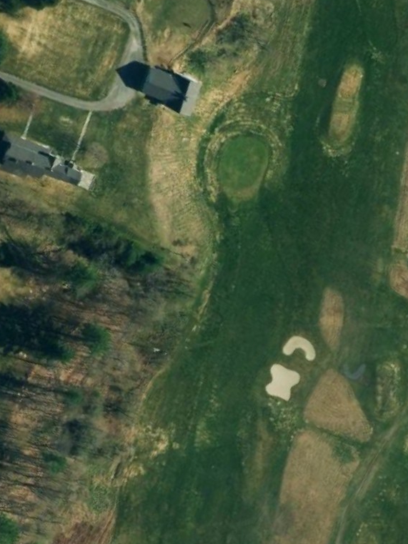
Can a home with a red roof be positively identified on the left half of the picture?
No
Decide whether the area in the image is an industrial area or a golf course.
golf course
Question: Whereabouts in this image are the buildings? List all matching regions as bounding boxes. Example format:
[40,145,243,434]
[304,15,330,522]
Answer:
[3,134,95,190]
[141,65,205,118]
